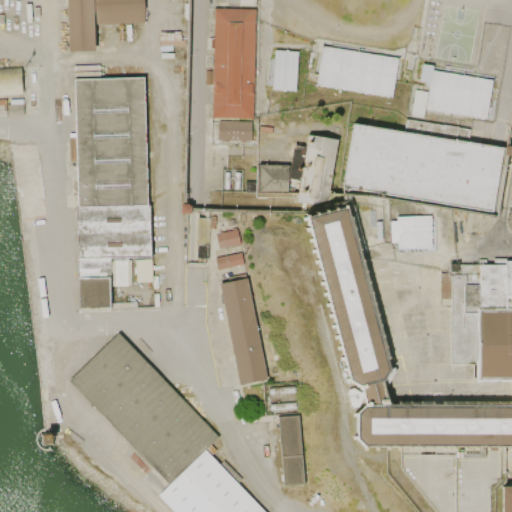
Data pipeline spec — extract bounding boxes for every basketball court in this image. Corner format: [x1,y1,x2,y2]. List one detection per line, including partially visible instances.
[437,6,480,64]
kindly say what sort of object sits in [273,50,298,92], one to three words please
building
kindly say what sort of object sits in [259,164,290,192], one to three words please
building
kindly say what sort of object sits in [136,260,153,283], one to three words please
shed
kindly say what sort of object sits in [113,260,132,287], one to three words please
shed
